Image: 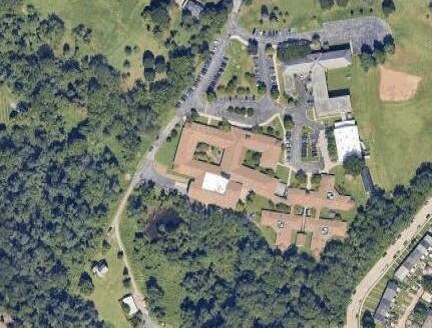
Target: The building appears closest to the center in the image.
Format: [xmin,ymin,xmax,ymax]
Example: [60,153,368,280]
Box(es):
[173,122,291,209]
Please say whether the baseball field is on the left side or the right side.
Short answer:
right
